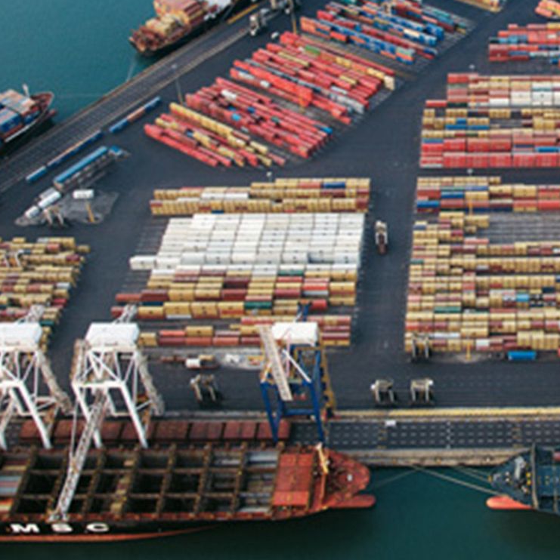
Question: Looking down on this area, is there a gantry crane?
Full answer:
Yes, the picture does show a gantry crane.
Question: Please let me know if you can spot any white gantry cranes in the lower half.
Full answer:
Yes, I can see a white gantry crane in the lower half.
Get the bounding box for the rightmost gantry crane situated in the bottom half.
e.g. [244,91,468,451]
[251,300,345,446]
